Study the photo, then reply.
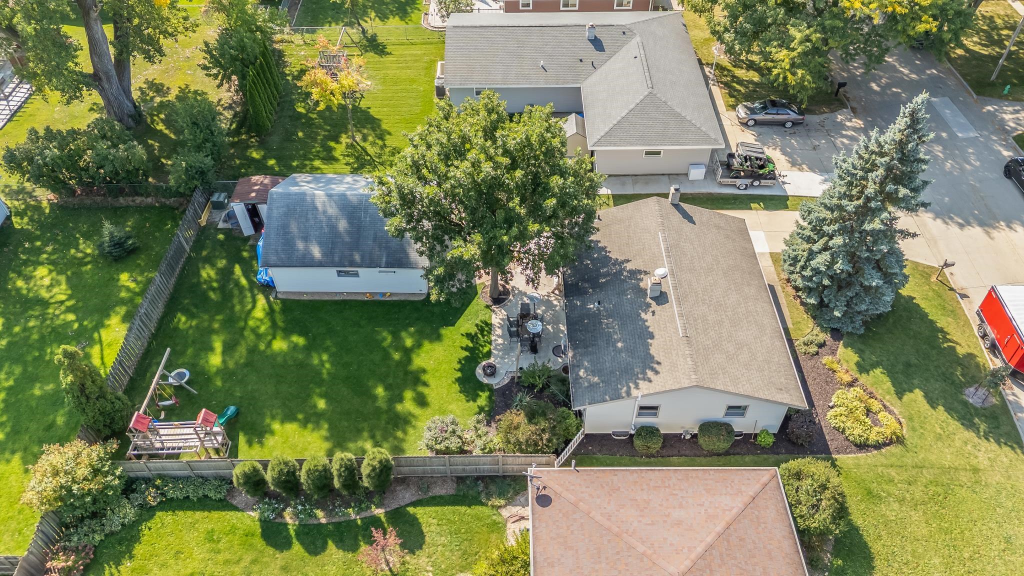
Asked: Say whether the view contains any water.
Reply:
No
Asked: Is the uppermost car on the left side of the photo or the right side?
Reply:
right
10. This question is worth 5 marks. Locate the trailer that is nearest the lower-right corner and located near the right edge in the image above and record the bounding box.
[977,285,1024,363]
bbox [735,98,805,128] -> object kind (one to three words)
car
